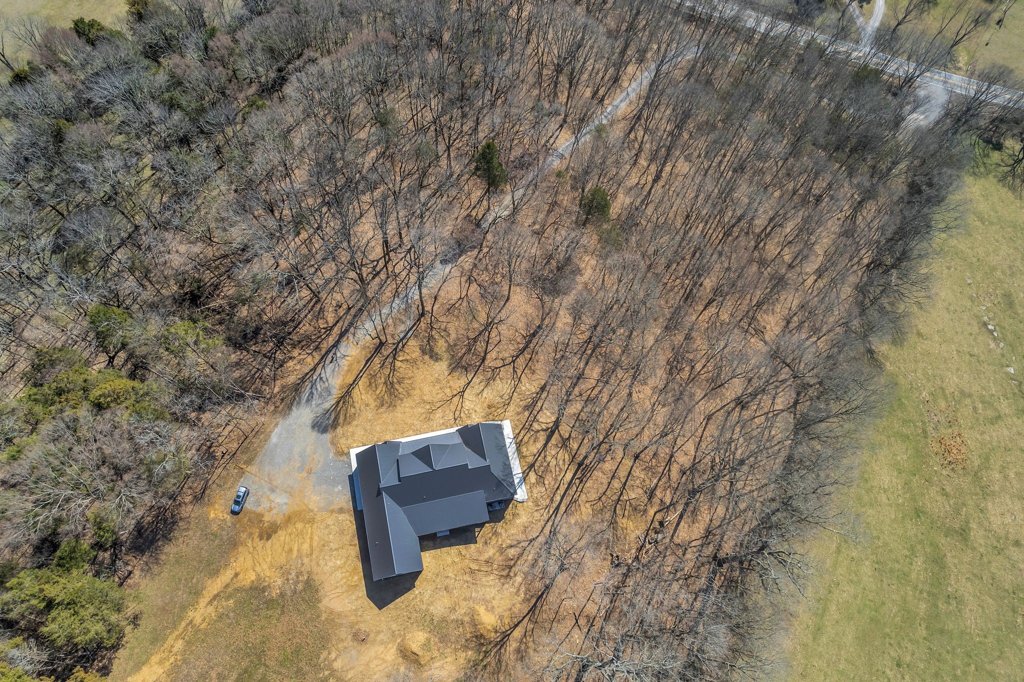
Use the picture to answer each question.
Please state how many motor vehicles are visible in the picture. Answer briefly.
1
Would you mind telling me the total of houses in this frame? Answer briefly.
1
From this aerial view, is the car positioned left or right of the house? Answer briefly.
to the left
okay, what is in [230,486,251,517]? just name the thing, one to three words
car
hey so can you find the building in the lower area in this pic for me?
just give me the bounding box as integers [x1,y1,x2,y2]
[355,423,518,581]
